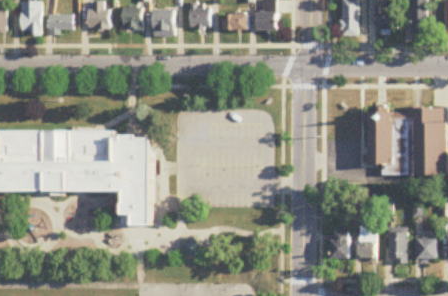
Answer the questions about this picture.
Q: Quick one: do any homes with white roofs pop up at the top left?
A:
Yes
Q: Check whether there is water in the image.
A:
No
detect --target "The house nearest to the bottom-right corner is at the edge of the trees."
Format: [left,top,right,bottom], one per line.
[418,238,440,264]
